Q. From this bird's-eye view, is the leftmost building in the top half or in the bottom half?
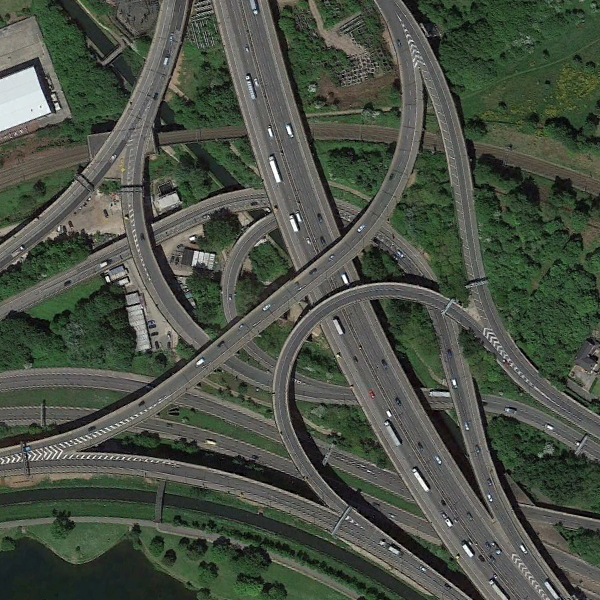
top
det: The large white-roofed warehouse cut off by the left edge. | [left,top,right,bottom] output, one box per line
[0,66,52,134]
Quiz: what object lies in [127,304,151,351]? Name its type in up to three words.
shed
